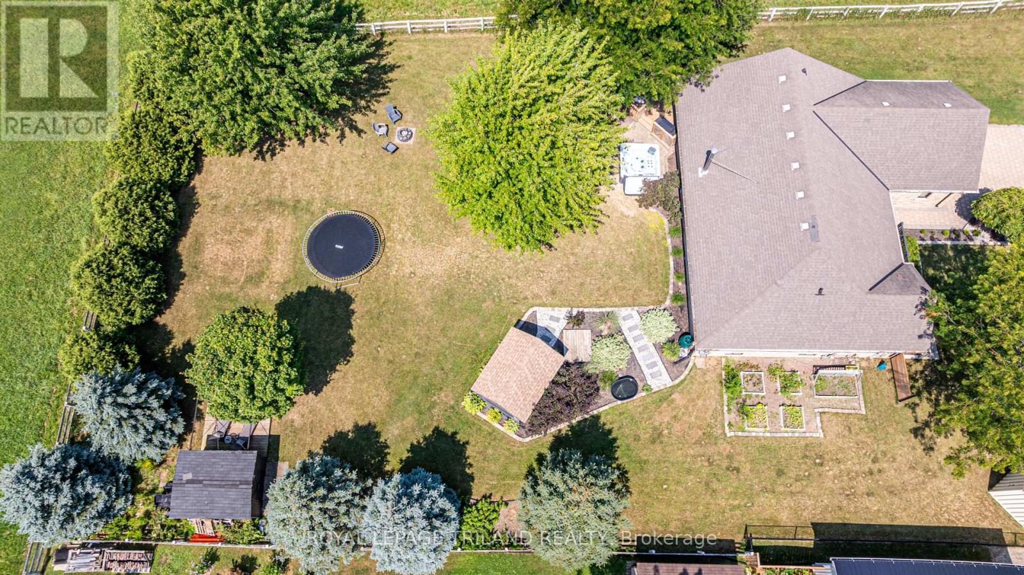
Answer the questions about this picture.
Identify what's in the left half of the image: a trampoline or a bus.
trampoline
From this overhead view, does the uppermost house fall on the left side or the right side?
right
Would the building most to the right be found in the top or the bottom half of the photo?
bottom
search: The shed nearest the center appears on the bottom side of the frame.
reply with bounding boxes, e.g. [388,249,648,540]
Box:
[471,327,564,423]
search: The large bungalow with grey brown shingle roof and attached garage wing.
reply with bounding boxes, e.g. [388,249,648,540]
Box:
[671,47,992,358]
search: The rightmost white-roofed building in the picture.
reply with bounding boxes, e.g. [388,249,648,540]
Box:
[985,461,1024,536]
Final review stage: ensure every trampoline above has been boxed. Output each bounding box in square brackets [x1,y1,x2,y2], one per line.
[303,210,383,288]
